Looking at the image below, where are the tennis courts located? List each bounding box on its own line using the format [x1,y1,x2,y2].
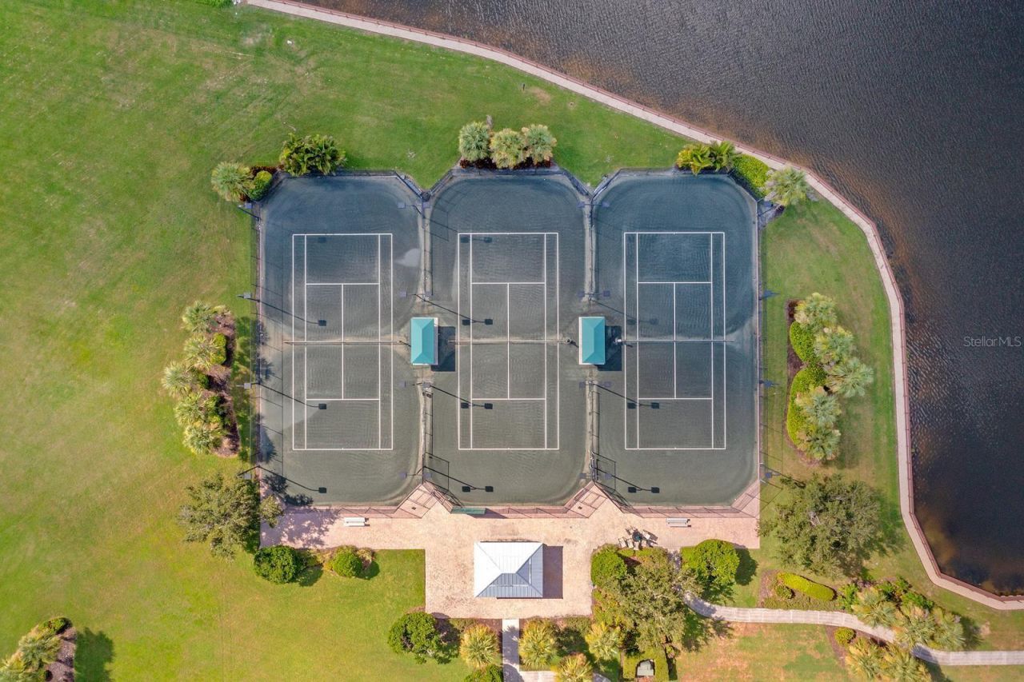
[595,174,759,507]
[260,176,424,507]
[427,174,591,507]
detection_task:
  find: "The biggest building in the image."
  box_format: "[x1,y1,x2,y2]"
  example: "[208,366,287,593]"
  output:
[474,540,543,599]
